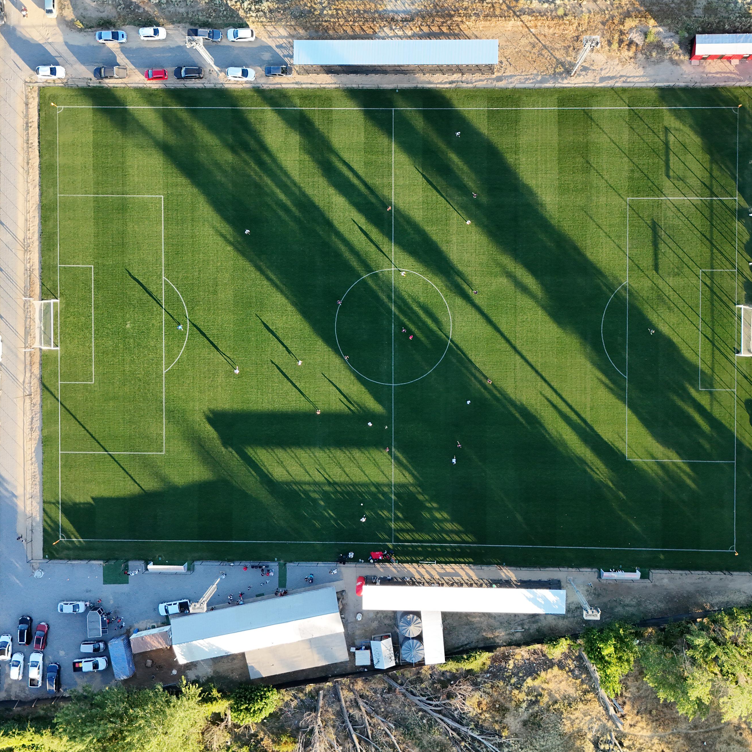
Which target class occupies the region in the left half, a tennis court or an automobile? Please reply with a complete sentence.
What appears in the left half is an automobile.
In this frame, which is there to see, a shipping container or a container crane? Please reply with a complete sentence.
Looking from above, you can make out a shipping container.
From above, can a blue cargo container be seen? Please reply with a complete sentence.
Yes, a blue cargo container appears in the view.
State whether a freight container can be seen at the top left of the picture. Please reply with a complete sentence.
No, there is no freight container at the top left of the picture.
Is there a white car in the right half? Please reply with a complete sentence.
No, in the right half there is no white car.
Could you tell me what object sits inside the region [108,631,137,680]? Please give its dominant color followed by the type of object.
blue shipping container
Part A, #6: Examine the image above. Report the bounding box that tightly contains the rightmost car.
[265,65,294,79]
